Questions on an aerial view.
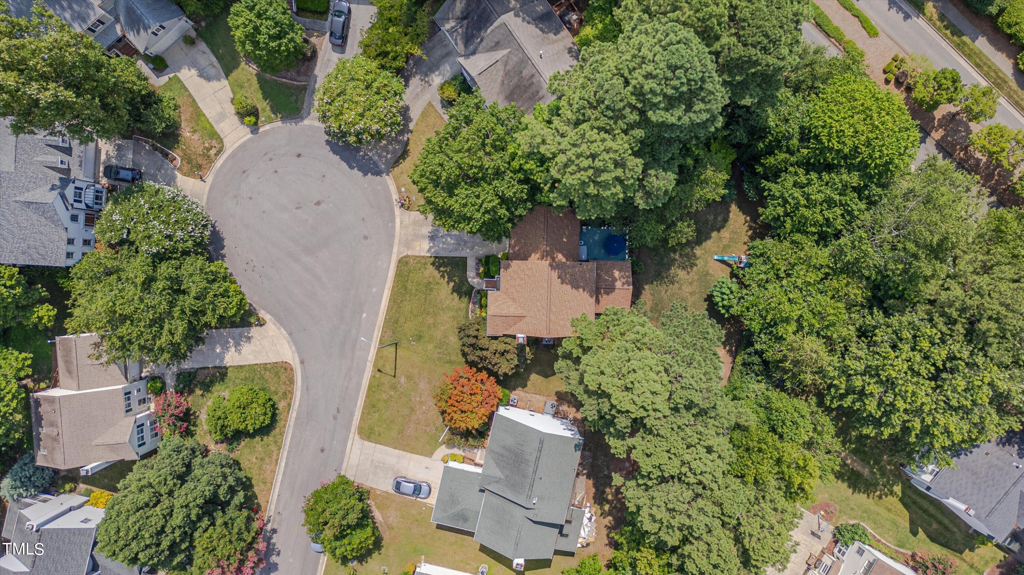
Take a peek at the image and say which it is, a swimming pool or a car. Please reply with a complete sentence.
I can see a car in this picture.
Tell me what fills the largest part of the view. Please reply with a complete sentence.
For the most part, this view shows trees.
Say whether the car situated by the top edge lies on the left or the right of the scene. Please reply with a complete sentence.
The car situated by the top edge sits on the left side.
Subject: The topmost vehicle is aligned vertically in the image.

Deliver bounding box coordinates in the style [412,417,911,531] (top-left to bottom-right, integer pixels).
[328,1,349,44]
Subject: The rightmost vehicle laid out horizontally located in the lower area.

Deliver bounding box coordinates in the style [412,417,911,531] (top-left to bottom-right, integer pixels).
[390,479,431,501]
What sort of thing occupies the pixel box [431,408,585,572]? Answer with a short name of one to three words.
house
